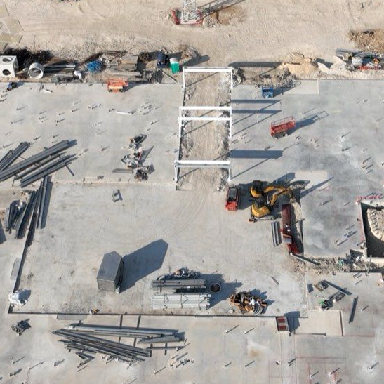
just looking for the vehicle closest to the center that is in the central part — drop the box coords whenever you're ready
[223,185,239,212]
